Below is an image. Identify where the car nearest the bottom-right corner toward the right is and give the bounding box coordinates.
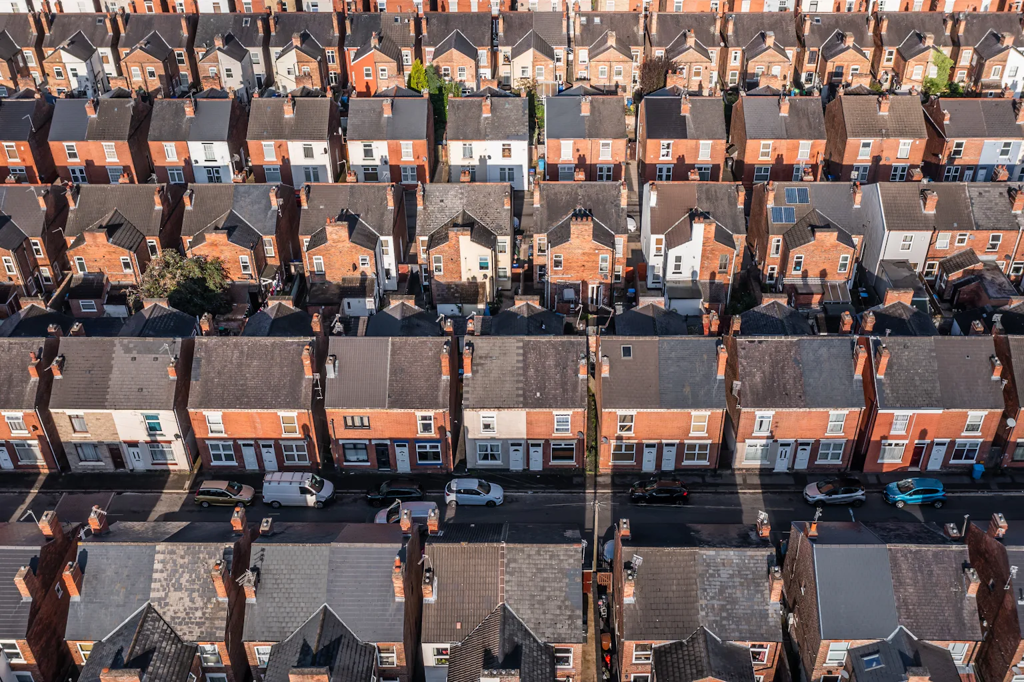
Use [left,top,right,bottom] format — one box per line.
[882,477,951,509]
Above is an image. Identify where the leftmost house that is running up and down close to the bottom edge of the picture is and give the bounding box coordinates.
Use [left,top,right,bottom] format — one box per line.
[0,501,86,682]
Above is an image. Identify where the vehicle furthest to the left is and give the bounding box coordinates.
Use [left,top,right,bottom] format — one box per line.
[198,480,261,509]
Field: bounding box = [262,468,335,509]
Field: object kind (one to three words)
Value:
van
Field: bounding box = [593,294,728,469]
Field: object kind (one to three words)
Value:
house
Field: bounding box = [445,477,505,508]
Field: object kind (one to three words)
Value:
car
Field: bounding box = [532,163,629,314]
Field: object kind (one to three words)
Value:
house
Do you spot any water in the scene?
No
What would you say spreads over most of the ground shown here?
buildings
